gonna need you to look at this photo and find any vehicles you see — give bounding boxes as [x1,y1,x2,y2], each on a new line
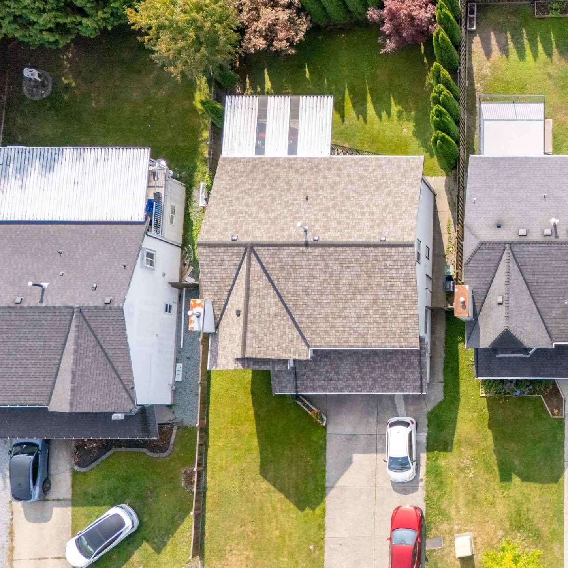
[6,442,52,504]
[68,503,145,567]
[388,503,427,568]
[383,415,421,482]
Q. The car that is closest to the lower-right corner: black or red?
red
